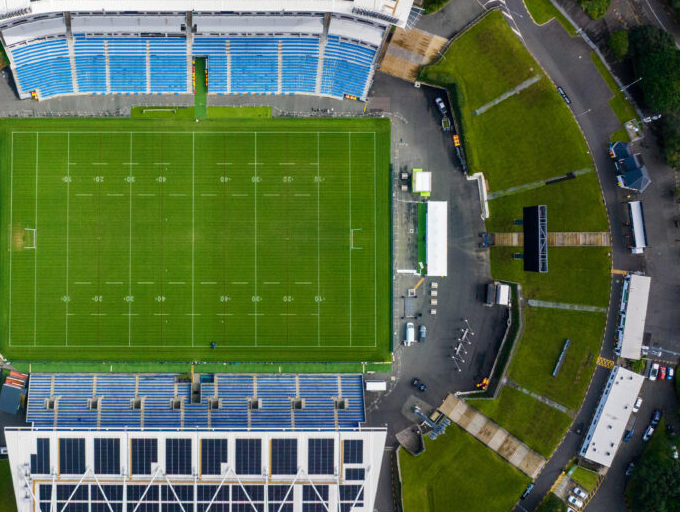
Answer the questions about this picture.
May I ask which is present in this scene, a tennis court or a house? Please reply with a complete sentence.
There is a house in the scene.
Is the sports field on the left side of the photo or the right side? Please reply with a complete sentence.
The sports field sits on the left side.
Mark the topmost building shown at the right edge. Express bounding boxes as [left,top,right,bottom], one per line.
[609,142,651,192]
